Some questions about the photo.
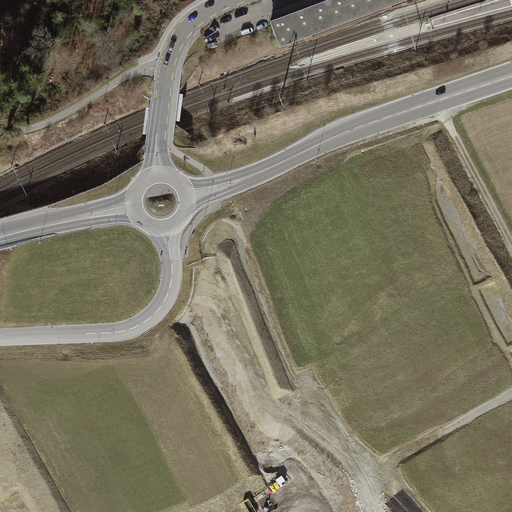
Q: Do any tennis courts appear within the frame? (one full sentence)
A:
No, there is no tennis court in the image.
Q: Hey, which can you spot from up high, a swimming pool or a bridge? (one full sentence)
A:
Looking from above, you can make out a bridge.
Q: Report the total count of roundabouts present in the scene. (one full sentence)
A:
The picture shows 1 roundabout.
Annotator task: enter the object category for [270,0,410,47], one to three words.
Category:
building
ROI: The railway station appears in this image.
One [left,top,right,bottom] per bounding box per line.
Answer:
[289,0,512,68]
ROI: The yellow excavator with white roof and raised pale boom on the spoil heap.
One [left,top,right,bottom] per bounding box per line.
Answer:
[256,478,286,512]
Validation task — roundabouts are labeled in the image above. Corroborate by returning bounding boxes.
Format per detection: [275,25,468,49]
[88,146,231,260]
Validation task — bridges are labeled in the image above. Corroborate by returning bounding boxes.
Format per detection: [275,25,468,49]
[144,68,190,157]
